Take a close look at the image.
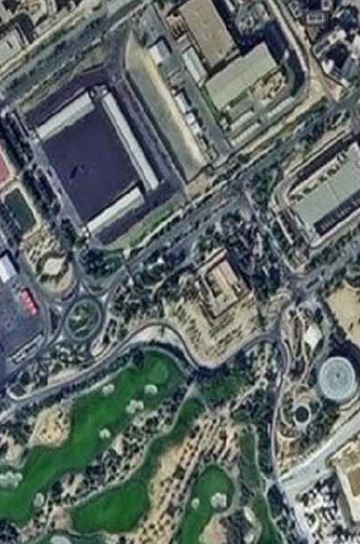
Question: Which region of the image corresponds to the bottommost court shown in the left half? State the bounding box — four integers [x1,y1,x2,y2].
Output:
[2,186,38,233]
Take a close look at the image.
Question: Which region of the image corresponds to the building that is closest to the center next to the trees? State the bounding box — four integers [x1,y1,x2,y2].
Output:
[198,250,249,315]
